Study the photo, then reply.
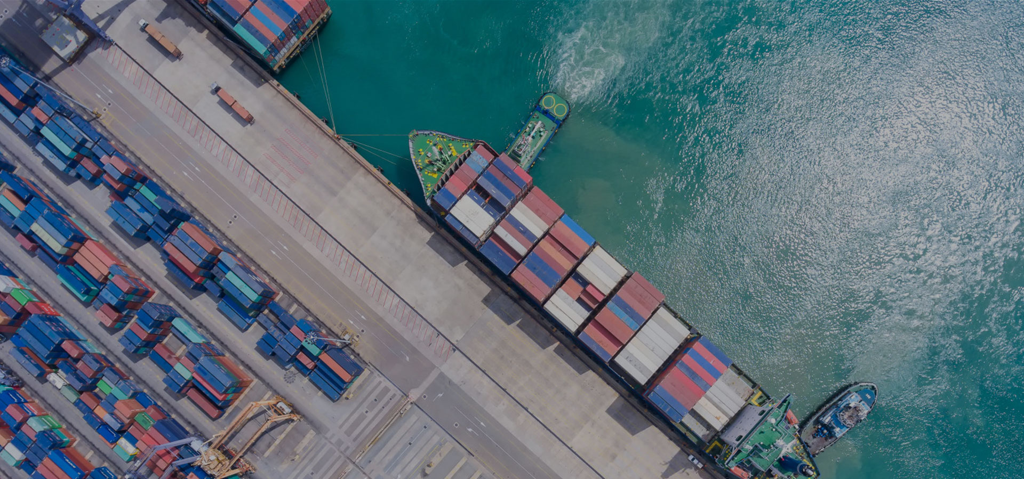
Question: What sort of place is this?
port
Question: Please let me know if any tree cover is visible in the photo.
No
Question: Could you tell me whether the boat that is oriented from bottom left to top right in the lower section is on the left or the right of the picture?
right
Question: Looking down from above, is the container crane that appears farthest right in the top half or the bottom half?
bottom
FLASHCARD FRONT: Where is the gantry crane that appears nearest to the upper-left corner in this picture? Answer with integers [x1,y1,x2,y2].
[57,0,118,45]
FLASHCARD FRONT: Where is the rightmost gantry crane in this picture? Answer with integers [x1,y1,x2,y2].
[192,395,300,479]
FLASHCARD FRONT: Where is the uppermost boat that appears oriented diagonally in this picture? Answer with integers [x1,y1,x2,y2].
[504,92,570,172]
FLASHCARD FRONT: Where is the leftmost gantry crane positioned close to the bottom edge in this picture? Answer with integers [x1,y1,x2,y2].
[122,435,207,479]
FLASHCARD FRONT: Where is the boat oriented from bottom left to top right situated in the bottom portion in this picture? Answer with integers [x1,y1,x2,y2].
[796,382,876,458]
